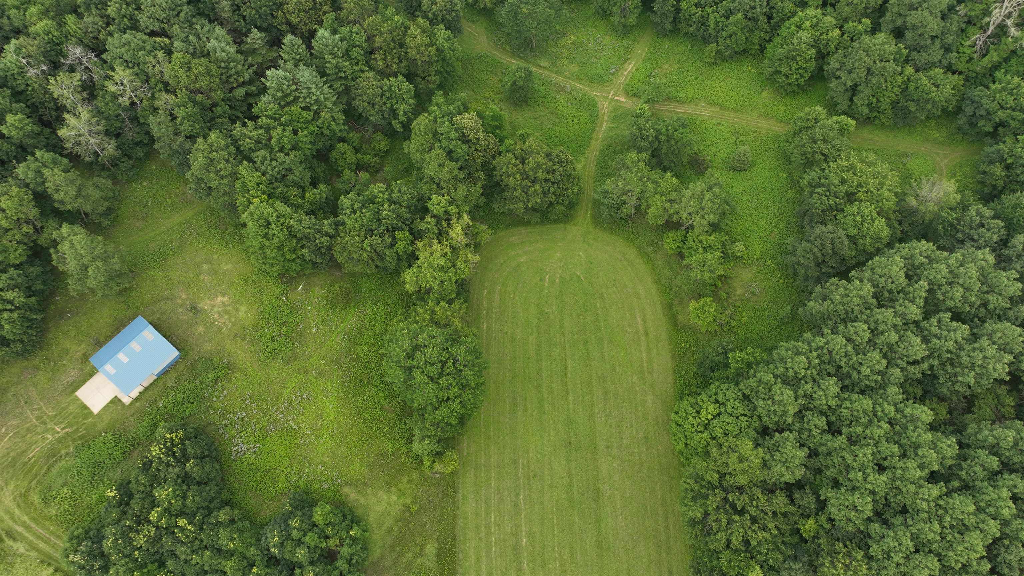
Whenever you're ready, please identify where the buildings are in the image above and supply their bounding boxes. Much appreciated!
[90,314,182,397]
